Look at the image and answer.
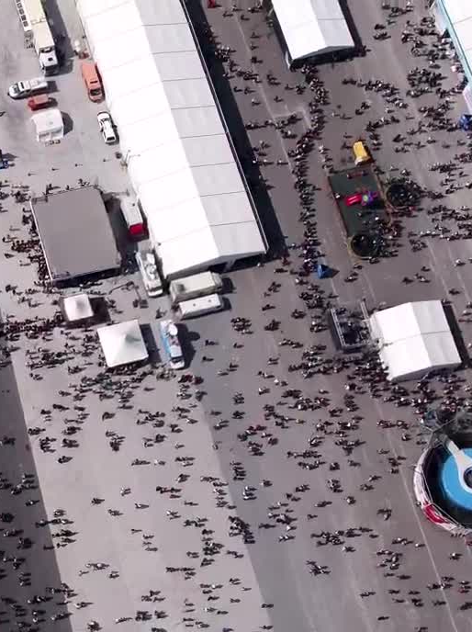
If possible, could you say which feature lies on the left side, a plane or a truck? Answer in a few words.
truck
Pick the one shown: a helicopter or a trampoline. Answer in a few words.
trampoline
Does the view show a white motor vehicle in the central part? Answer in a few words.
Yes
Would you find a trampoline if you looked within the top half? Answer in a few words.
Yes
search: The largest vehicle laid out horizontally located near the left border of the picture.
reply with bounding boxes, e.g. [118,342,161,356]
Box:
[10,80,48,100]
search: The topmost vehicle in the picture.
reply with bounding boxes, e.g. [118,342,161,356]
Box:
[13,0,60,80]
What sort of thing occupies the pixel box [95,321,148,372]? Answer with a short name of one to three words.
tent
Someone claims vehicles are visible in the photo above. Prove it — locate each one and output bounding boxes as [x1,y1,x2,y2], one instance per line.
[83,64,105,105]
[139,251,165,298]
[13,0,60,80]
[156,321,185,372]
[99,115,116,145]
[28,94,52,111]
[177,295,222,321]
[170,272,222,299]
[121,195,145,239]
[10,80,48,100]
